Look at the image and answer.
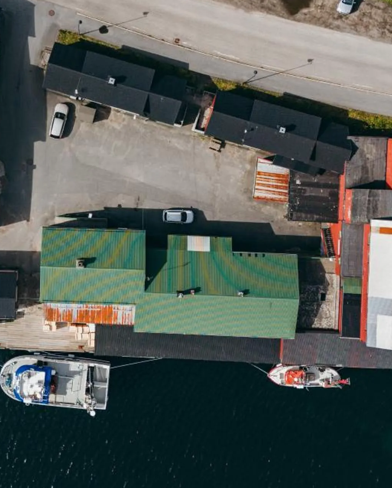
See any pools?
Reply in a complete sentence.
No, there isn't any pool down there.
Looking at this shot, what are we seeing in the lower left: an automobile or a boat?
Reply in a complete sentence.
It is a boat that can be seen in the lower left.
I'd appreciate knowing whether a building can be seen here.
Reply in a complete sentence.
Yes, a building appears in the view.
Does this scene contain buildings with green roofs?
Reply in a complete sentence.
Yes, a building with a green roof can be made out from above.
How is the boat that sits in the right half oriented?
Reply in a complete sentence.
The boat that sits in the right half has been laid out from left to right relative to the frame.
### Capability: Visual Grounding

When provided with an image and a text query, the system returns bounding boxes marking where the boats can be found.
[0,360,110,418]
[270,365,352,394]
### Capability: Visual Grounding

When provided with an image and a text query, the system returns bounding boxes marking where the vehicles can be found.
[48,102,68,139]
[161,209,195,225]
[338,0,360,15]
